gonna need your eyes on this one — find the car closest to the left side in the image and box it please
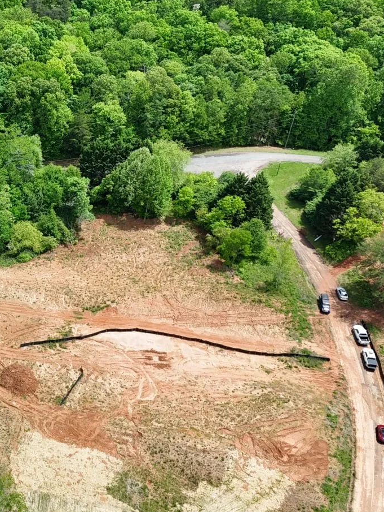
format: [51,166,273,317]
[318,294,332,312]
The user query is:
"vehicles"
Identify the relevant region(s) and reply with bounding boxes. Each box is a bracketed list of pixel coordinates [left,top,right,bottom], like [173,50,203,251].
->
[335,286,352,300]
[363,349,381,372]
[353,325,371,347]
[318,294,332,312]
[377,423,384,443]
